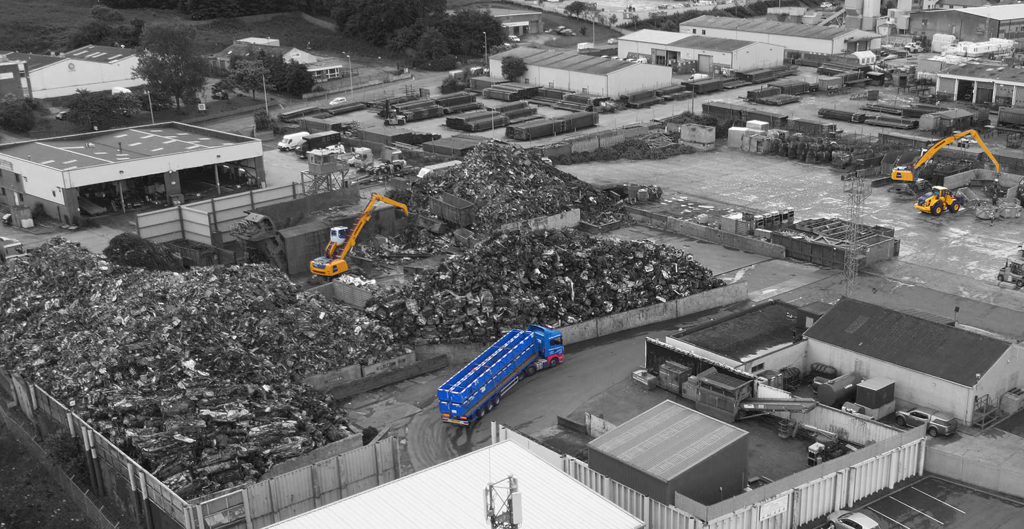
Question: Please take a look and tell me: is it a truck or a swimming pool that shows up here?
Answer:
truck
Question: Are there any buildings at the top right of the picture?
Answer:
Yes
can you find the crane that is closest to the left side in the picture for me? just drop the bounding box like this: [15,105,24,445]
[311,190,419,282]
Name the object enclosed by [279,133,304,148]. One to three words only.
vehicle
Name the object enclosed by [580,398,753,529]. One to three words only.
shed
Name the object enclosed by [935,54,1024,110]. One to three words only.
building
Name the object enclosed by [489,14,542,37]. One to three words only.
building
